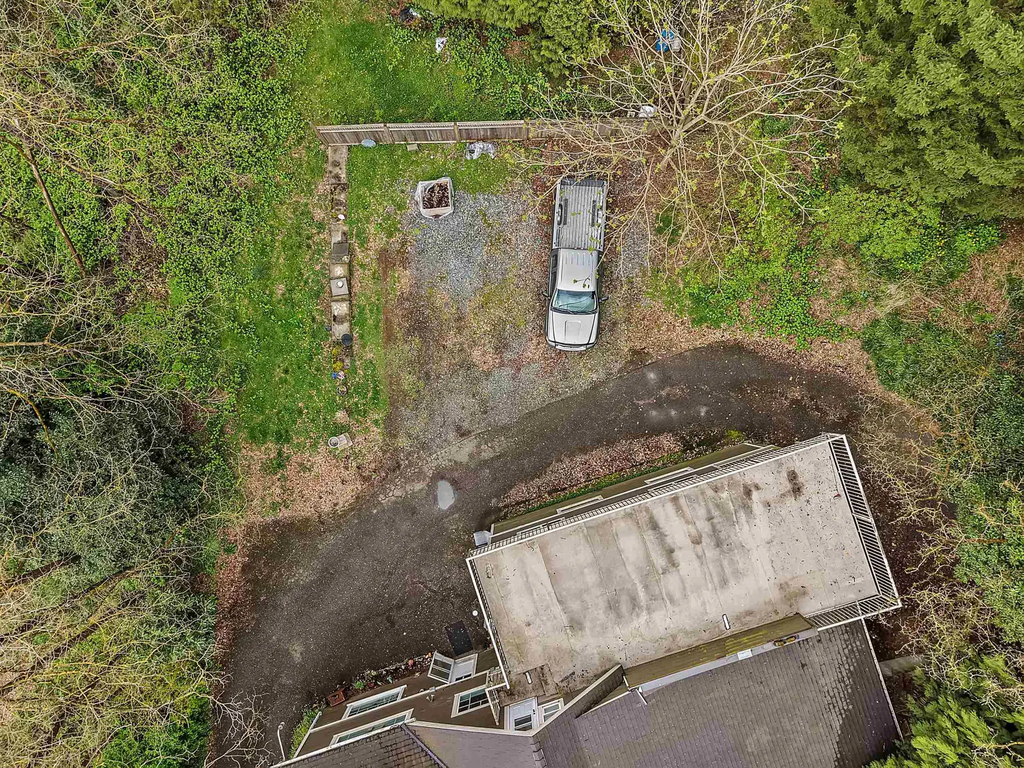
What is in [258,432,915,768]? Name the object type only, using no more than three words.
house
